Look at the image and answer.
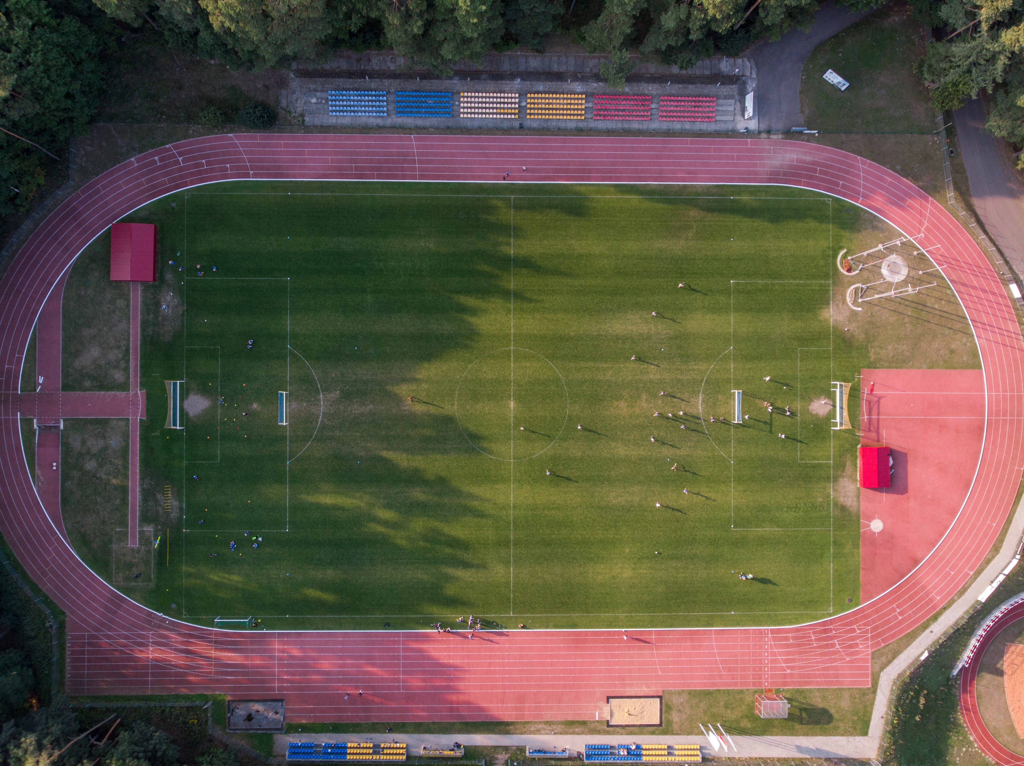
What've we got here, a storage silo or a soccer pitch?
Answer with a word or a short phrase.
soccer pitch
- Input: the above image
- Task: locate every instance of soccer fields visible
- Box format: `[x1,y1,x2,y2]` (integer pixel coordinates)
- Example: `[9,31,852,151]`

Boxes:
[145,180,861,630]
